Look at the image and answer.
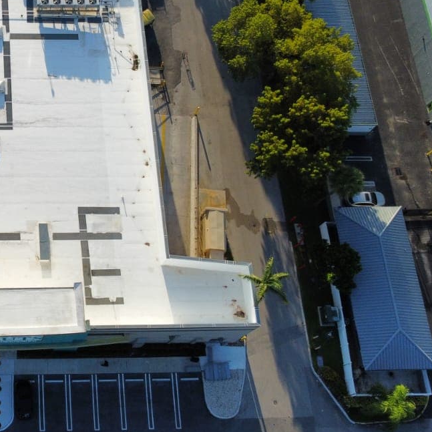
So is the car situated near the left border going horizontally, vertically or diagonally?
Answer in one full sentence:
In this picture, the car situated near the left border is oriented vertically.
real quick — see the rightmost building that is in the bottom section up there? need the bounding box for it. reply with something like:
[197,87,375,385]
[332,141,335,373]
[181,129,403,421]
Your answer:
[333,206,432,370]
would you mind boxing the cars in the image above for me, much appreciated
[14,375,37,427]
[345,188,391,207]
